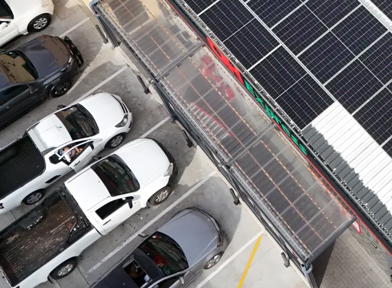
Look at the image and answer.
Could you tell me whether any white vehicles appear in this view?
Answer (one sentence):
Yes, a white vehicle can be made out from above.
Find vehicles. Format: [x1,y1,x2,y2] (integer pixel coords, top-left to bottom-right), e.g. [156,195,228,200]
[0,0,50,48]
[0,90,125,212]
[0,23,83,122]
[0,137,173,288]
[81,210,222,288]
